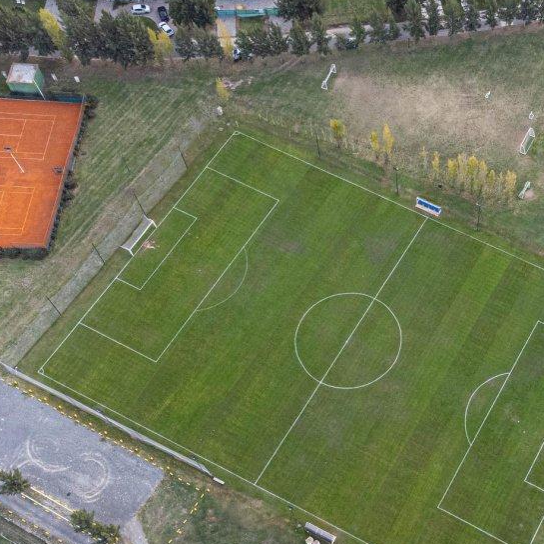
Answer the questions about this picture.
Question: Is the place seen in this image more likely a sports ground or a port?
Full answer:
This image shows a sports ground.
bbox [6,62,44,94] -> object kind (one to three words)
shed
